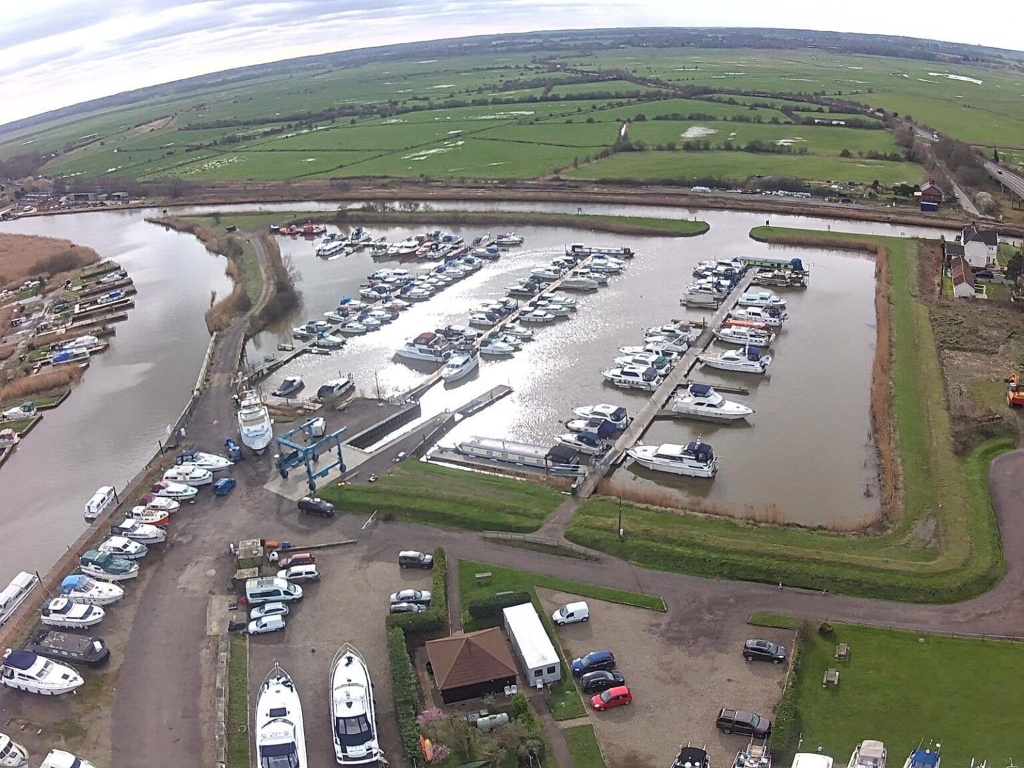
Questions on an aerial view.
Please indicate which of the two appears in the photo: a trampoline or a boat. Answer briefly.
boat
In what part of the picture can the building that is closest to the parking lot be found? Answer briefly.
bottom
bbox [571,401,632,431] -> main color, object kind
white boat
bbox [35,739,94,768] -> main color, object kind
white boat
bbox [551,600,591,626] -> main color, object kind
white vehicle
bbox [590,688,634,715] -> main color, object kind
red car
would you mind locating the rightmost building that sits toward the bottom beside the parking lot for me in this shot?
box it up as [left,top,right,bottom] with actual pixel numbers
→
[502,602,561,688]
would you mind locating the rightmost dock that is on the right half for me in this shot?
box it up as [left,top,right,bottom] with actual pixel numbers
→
[614,269,759,451]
